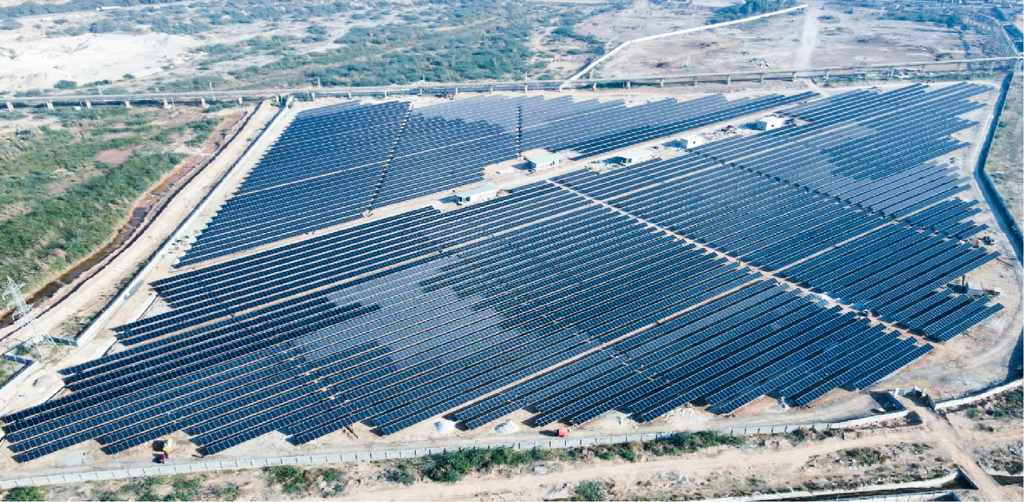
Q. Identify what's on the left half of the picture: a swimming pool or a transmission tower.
transmission tower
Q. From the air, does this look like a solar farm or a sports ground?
solar farm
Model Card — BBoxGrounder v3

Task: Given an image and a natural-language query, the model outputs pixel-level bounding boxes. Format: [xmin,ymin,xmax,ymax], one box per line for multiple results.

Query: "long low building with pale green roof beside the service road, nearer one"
[454,184,497,206]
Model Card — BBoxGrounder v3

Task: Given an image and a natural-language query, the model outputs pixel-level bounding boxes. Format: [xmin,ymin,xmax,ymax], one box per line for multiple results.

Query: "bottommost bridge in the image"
[0,56,1024,112]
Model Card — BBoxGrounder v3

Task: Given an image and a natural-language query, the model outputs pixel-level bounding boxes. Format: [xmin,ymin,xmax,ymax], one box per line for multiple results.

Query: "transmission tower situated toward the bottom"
[2,281,51,359]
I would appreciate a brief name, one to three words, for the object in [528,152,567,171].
building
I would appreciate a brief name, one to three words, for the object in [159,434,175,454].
work vehicle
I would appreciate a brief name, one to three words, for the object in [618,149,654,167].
building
